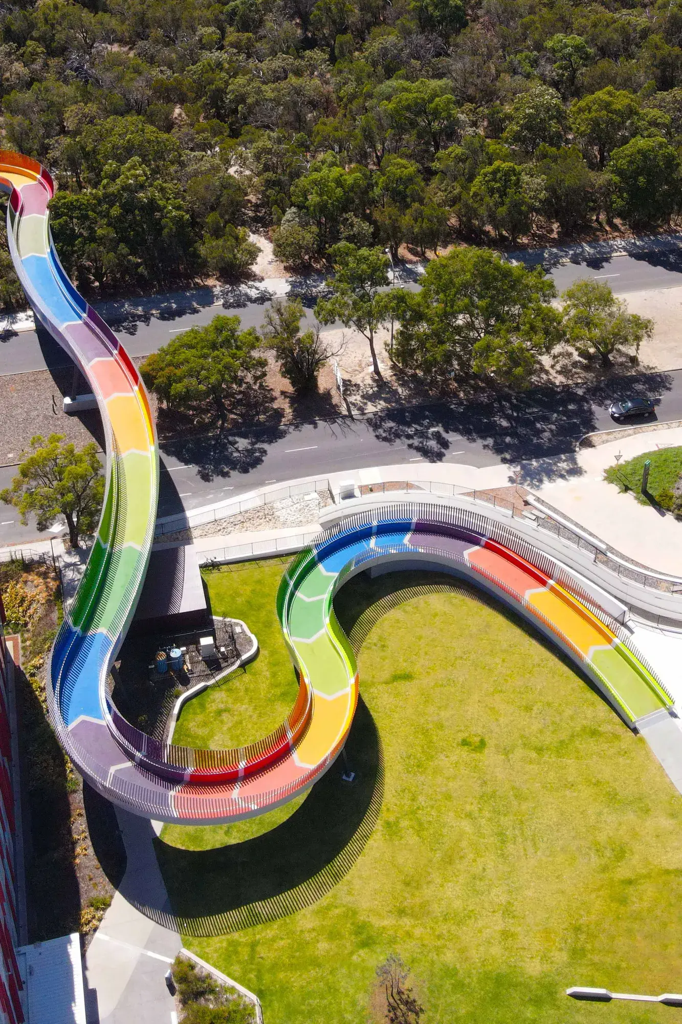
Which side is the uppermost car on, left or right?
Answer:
right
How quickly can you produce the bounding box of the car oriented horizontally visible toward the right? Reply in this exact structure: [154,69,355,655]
[610,401,656,423]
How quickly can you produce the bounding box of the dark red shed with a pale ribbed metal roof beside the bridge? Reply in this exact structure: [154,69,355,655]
[125,545,206,643]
